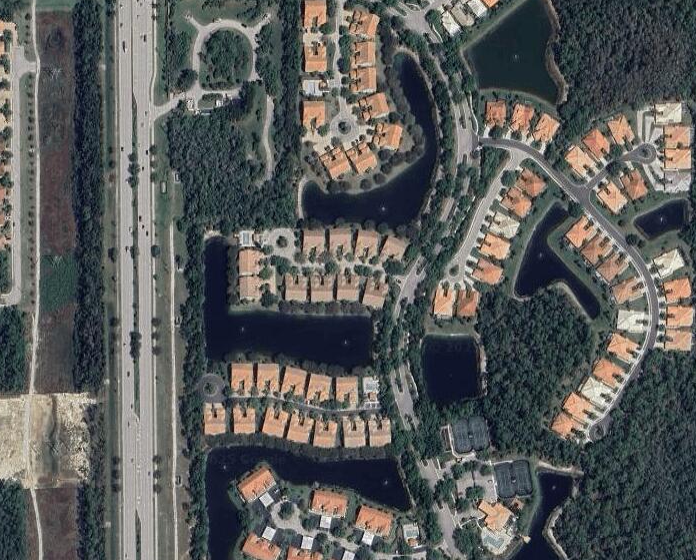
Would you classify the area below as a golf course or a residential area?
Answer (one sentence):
What you see here is a residential area.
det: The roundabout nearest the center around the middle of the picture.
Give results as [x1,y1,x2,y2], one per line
[265,225,298,258]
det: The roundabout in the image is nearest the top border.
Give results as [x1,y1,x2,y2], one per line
[327,112,358,143]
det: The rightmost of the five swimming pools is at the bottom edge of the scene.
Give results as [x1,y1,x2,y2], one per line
[481,529,512,555]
